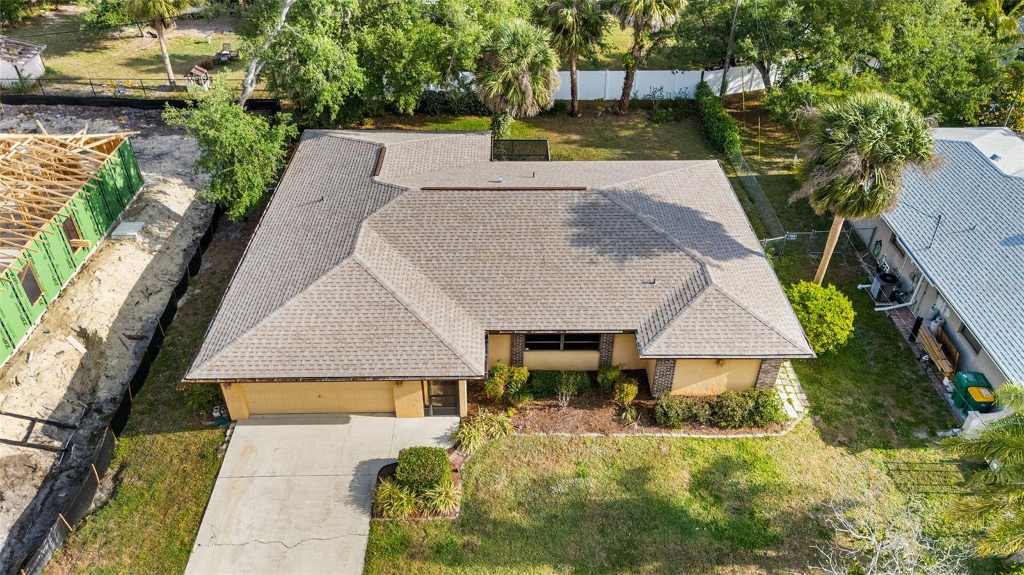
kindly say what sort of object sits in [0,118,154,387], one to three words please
house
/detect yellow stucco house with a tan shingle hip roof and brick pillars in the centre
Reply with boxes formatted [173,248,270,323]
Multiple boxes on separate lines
[182,125,817,419]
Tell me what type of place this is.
residential area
